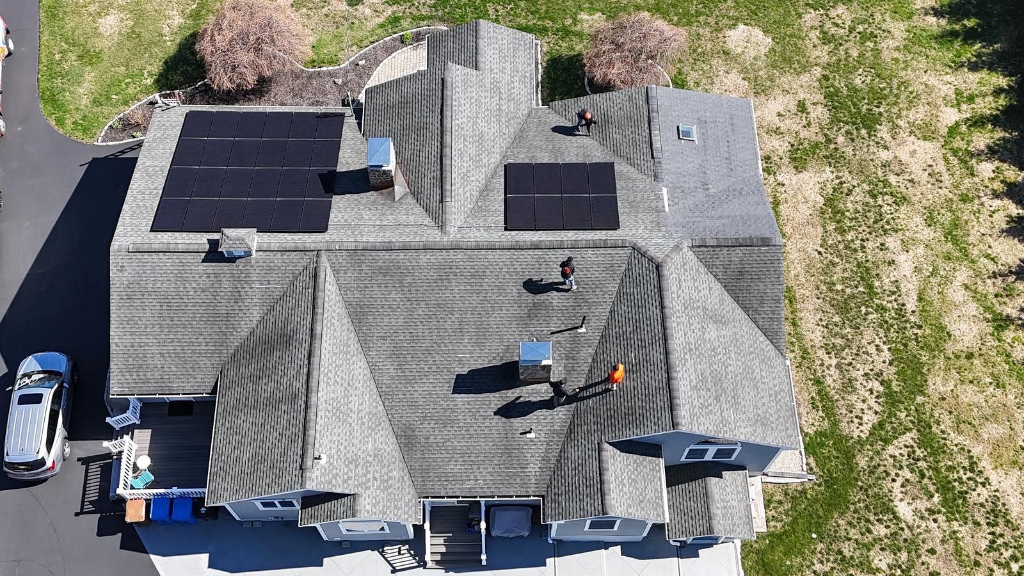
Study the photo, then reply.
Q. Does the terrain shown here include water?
No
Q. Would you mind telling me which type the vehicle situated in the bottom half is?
car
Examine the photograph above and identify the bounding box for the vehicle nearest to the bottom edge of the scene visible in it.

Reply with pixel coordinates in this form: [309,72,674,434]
[1,347,77,483]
